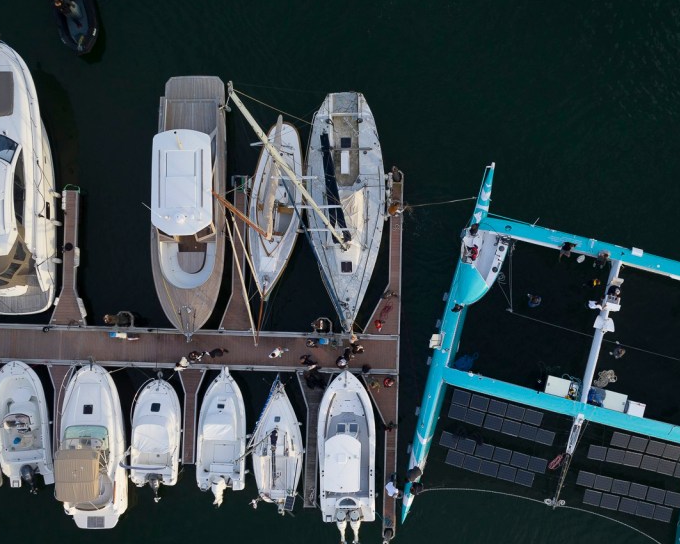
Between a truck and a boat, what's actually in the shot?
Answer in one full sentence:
I can see a boat in this picture.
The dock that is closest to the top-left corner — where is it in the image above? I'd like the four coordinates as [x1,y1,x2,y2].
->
[50,183,90,325]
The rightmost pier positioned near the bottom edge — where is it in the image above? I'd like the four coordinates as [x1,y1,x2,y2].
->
[364,373,400,540]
